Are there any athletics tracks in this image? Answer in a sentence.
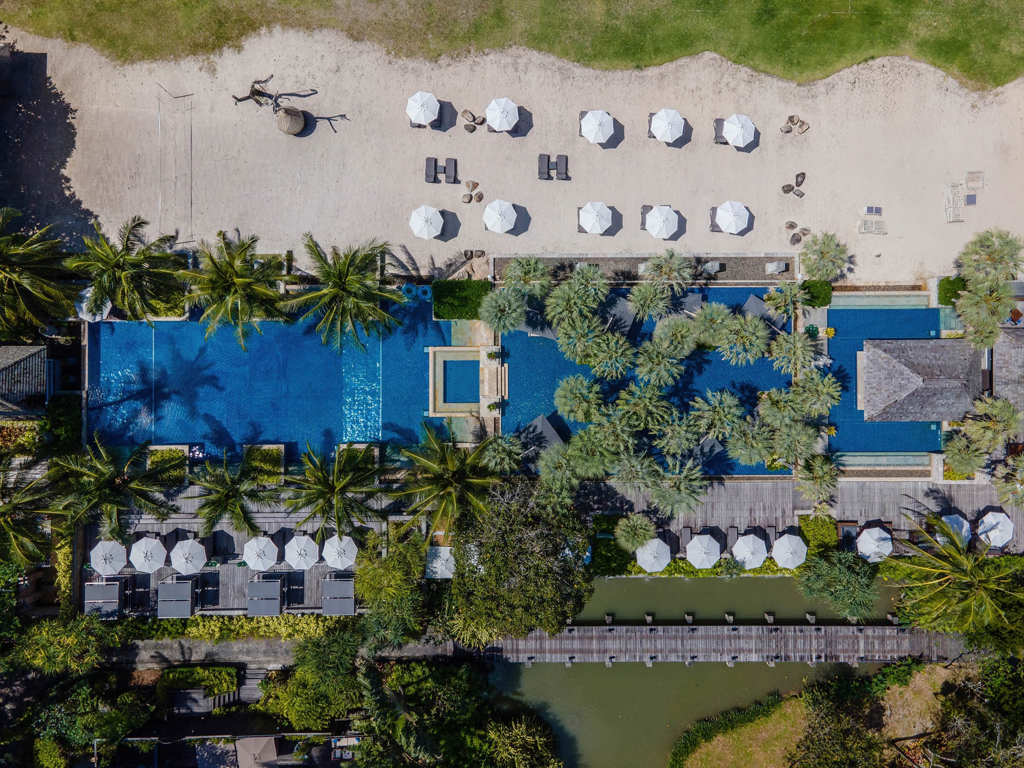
No, the picture doesn't show any athletics track.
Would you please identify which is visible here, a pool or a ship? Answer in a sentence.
Of the two, only a pool appears.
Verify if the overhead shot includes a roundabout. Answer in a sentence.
No, there appears to be no roundabout in this shot.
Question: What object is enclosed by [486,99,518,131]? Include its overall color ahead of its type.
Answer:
white umbrella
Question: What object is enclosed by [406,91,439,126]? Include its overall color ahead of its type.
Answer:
white umbrella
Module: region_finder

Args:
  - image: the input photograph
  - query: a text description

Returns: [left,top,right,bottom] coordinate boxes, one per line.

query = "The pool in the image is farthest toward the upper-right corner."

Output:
[828,281,968,482]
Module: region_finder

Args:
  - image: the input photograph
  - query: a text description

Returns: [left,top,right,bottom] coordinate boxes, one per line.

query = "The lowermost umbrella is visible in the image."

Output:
[235,734,280,768]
